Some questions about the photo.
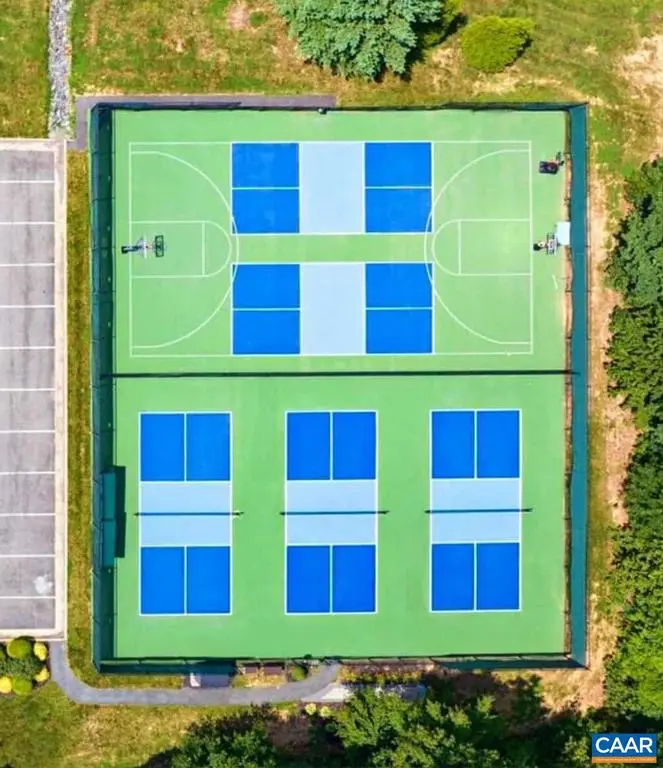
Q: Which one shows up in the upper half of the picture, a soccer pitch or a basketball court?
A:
basketball court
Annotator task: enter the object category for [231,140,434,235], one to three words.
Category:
sports court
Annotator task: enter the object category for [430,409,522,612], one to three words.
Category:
sports court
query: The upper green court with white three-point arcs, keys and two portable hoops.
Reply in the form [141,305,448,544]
[104,110,566,374]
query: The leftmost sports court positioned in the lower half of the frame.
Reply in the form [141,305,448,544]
[139,412,232,616]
